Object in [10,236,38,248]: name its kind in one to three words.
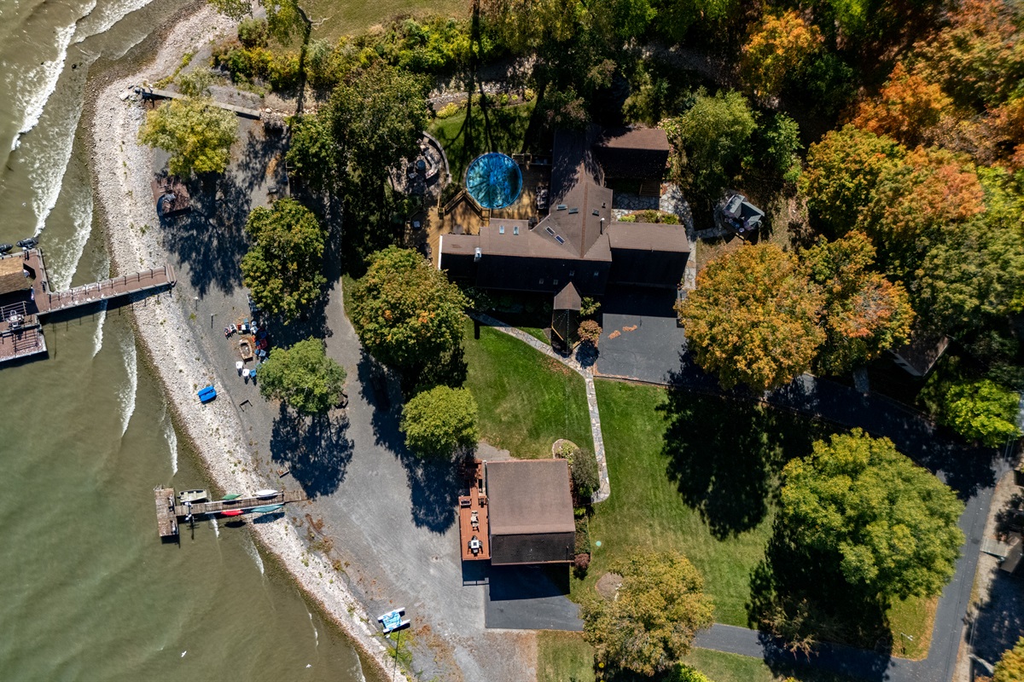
boat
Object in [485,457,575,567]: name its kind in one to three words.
building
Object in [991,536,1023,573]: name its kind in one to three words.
shed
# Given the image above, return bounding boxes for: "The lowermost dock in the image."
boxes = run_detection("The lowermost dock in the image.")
[154,484,306,536]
